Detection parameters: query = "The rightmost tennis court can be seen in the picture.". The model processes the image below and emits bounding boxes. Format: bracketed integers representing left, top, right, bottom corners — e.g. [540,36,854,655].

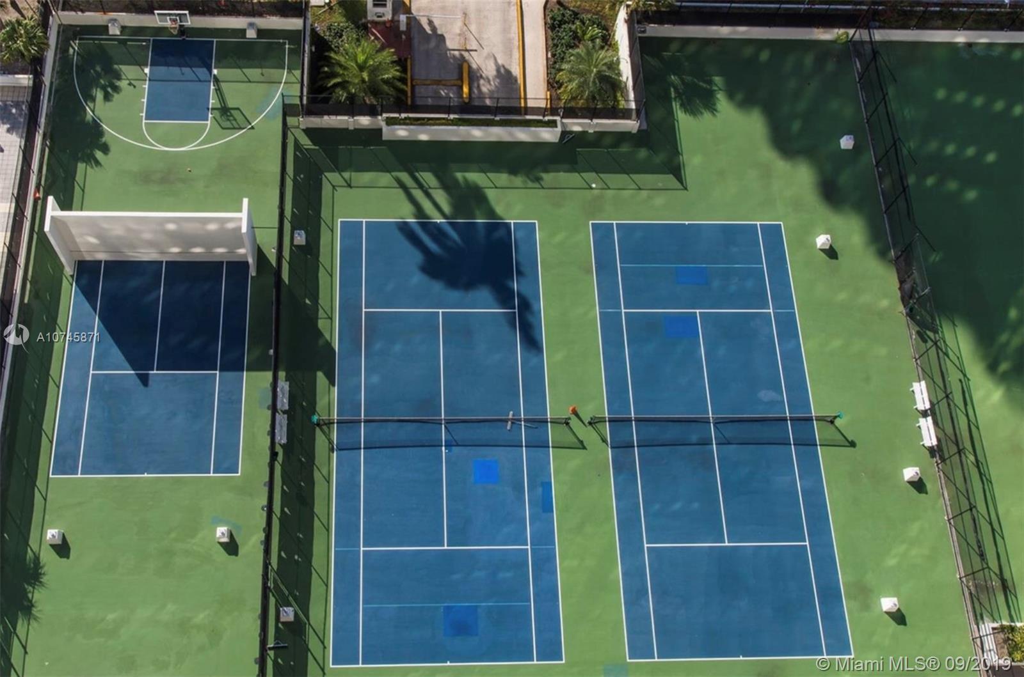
[590,221,854,662]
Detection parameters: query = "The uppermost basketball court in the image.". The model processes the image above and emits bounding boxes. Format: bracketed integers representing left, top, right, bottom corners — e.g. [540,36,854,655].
[73,36,293,150]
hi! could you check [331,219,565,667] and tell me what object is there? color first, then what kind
blue tennis court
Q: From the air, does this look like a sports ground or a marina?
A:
sports ground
